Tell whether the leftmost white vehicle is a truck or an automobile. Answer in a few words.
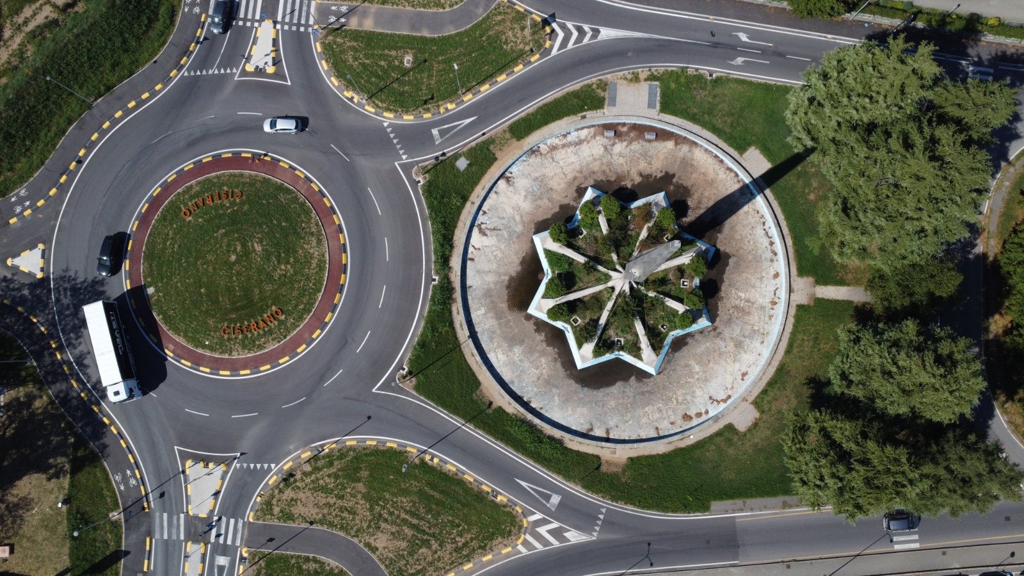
truck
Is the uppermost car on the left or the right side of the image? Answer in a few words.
left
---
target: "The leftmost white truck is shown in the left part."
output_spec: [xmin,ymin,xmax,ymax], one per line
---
[82,300,146,409]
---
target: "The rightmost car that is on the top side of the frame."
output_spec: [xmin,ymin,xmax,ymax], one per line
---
[264,117,301,136]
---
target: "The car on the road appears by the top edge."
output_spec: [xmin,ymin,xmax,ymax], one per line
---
[210,0,234,34]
